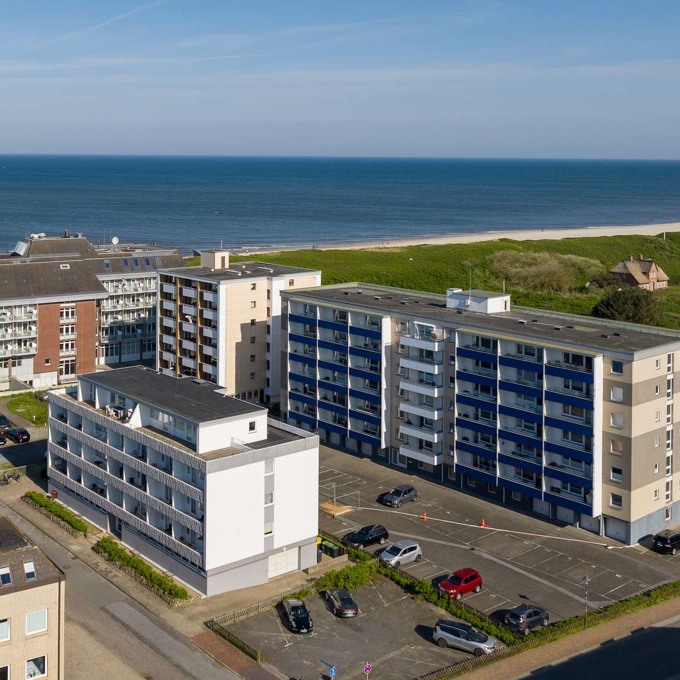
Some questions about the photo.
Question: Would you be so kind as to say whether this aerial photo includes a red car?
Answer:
Yes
